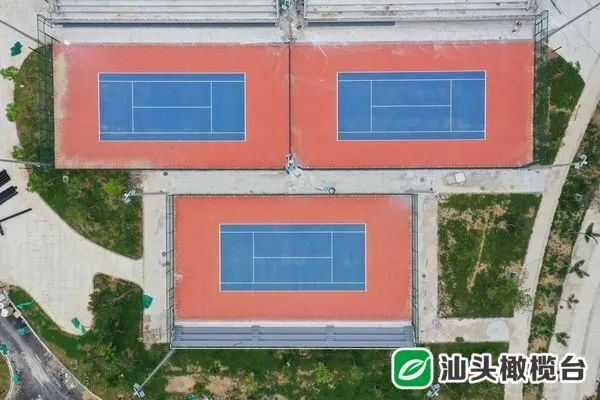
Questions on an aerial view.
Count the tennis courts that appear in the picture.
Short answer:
3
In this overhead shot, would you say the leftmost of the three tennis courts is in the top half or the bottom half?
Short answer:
top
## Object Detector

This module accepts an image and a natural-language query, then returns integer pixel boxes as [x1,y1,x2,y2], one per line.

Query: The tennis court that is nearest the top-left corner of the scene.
[52,43,289,168]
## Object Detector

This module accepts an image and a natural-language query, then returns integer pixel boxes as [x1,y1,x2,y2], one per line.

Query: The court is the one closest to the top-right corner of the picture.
[291,41,534,167]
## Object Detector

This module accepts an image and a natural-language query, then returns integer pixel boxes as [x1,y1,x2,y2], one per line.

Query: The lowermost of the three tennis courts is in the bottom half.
[173,195,412,320]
